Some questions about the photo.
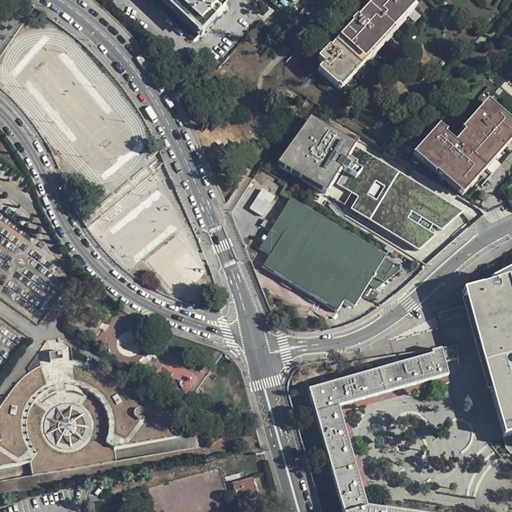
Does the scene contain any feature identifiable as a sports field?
Yes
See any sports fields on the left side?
Yes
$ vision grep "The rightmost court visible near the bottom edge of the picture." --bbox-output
[149,468,227,512]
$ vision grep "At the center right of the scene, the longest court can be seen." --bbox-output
[369,259,402,290]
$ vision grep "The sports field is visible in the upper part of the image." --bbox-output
[1,32,147,183]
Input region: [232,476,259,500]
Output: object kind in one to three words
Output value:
house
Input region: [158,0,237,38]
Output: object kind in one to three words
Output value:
building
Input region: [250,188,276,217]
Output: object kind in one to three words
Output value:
shed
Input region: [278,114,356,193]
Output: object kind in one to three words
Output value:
building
